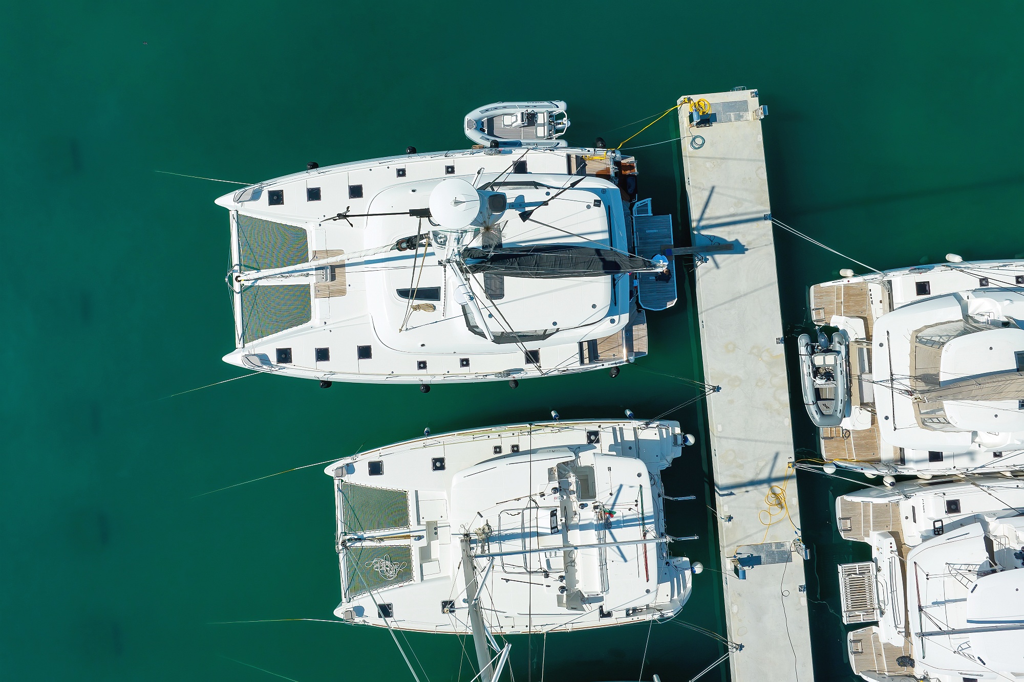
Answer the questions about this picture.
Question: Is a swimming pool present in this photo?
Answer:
No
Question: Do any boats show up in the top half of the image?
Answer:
Yes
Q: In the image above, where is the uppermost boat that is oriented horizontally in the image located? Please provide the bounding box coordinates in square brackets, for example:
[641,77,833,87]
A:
[465,100,570,148]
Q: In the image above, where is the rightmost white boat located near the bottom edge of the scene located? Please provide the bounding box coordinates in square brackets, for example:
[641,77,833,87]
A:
[828,469,1024,682]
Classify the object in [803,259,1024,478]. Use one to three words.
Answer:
boat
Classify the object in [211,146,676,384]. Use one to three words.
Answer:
boat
